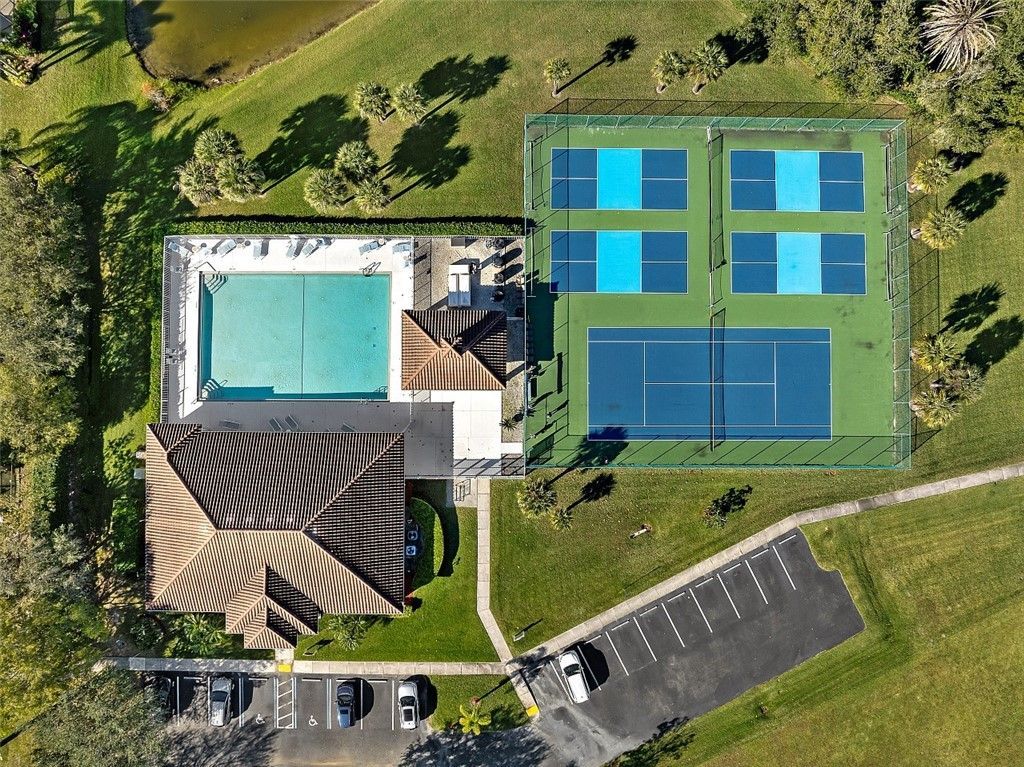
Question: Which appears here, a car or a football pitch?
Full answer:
I can see a car in this picture.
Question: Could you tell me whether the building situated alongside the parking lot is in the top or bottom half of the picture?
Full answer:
Seen from above, the building situated alongside the parking lot lies in the bottom half of the view.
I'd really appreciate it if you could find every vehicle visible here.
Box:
[560,649,590,705]
[334,680,356,728]
[396,678,420,730]
[208,675,234,727]
[149,672,175,722]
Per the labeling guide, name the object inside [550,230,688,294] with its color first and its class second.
blue sports court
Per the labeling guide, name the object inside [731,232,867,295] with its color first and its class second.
blue sports court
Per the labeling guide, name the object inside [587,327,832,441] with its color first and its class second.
blue tennis court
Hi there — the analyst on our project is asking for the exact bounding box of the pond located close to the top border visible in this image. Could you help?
[131,0,379,84]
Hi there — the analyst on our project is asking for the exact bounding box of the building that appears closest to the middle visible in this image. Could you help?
[400,308,508,391]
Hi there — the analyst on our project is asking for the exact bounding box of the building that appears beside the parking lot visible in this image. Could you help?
[142,422,405,650]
